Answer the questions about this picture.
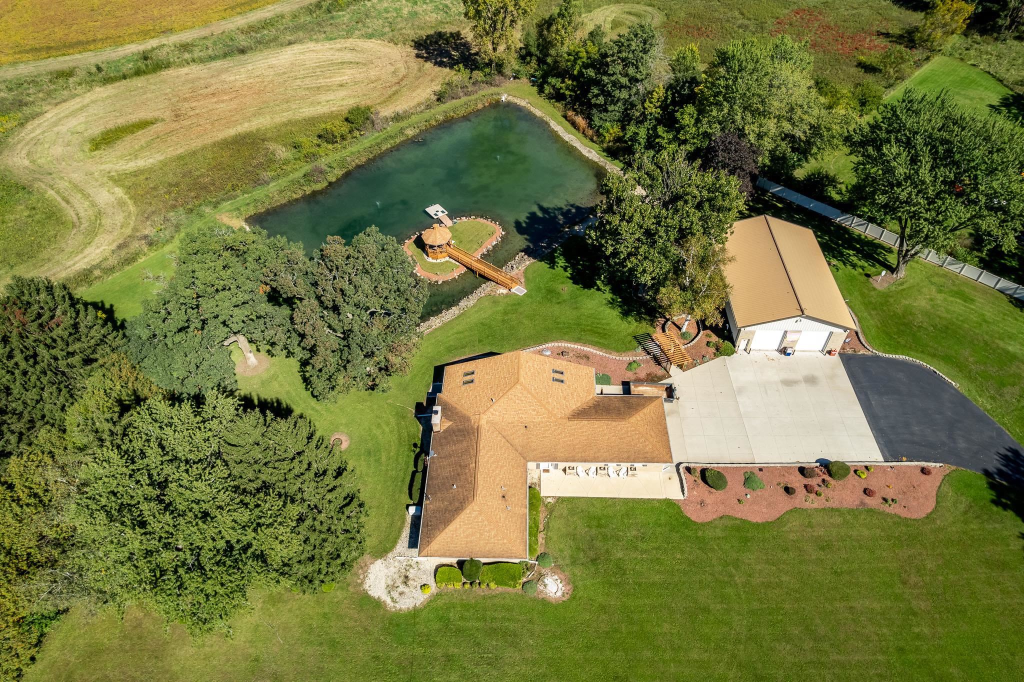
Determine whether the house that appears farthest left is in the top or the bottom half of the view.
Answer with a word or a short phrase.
bottom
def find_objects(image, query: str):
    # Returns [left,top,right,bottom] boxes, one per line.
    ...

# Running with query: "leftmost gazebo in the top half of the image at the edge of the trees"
[421,225,453,259]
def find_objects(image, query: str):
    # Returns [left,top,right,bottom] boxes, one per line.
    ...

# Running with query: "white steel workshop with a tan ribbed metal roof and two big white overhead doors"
[709,214,857,352]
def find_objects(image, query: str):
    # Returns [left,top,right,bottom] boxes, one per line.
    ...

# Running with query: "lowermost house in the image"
[416,350,675,565]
